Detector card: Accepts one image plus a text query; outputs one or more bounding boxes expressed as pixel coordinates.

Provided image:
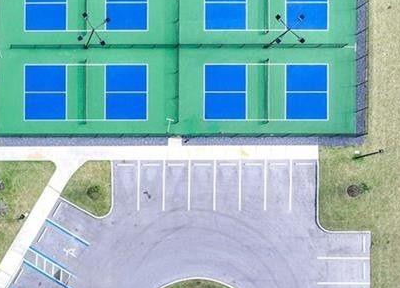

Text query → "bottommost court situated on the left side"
[0,48,179,136]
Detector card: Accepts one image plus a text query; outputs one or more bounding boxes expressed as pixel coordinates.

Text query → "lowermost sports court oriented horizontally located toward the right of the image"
[179,48,357,136]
